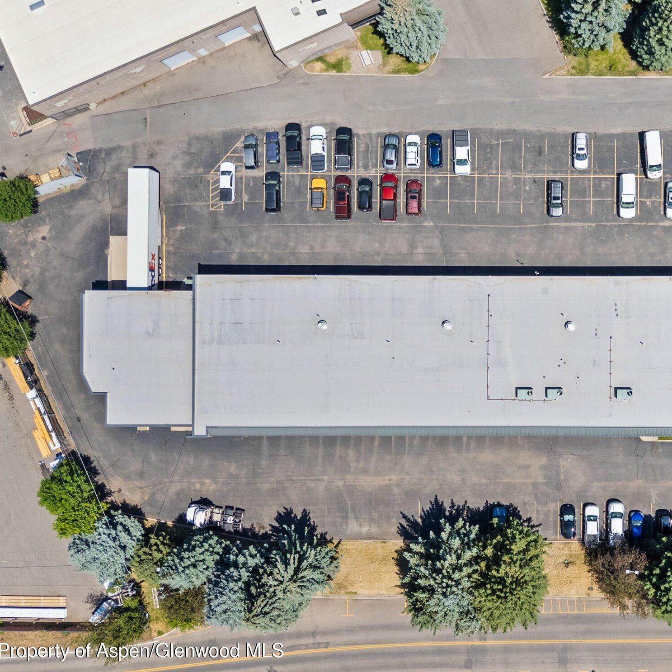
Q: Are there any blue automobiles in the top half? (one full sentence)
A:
Yes, the scene does show a blue automobile in the top half.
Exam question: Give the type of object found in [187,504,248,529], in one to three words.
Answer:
truck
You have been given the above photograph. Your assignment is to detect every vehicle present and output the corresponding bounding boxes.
[583,504,602,548]
[628,510,646,542]
[334,127,354,173]
[284,124,304,169]
[217,162,237,205]
[241,136,261,172]
[307,126,328,173]
[263,132,282,164]
[606,500,627,547]
[381,135,400,170]
[379,174,398,223]
[547,180,565,219]
[572,133,590,170]
[187,504,248,529]
[310,179,328,211]
[645,130,665,180]
[559,503,577,539]
[452,130,472,176]
[405,180,423,217]
[664,182,672,220]
[618,174,637,219]
[425,133,444,168]
[332,176,353,222]
[404,136,422,169]
[262,173,282,213]
[356,179,374,212]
